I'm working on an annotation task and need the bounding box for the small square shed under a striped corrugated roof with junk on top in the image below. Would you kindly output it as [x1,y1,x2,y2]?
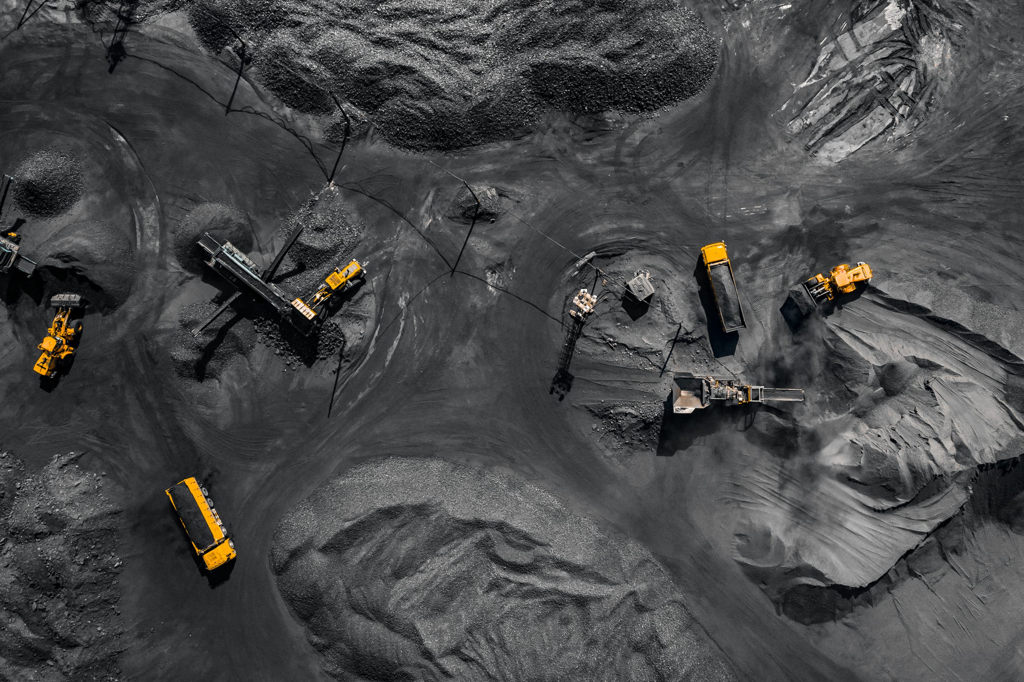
[626,266,657,304]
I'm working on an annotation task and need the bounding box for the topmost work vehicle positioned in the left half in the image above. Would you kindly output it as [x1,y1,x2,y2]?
[296,258,368,318]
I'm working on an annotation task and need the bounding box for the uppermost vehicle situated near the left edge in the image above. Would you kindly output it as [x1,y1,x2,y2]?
[32,299,89,380]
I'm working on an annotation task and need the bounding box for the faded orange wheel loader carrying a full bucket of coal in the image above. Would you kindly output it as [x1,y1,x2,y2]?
[789,260,872,319]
